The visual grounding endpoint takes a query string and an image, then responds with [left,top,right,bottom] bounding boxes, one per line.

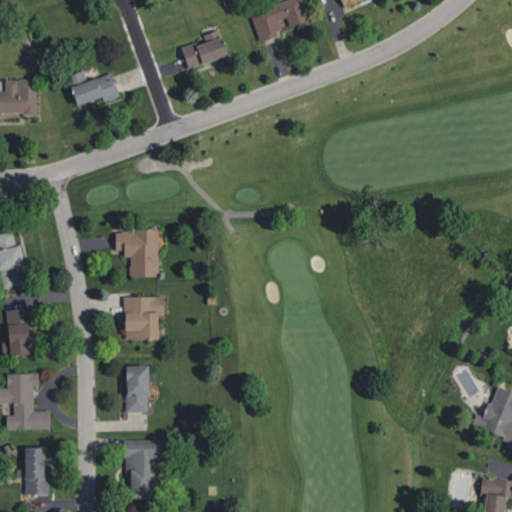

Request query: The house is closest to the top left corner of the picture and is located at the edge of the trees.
[0,80,38,115]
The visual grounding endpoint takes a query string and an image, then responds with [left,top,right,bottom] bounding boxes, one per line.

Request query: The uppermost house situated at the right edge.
[472,383,512,440]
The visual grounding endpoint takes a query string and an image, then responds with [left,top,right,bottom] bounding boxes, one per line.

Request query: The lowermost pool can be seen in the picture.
[448,468,477,505]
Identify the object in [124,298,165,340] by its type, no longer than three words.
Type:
house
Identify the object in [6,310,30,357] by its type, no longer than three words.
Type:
house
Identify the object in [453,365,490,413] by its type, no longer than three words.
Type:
swimming pool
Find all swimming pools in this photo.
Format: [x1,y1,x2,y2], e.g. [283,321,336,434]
[448,468,477,505]
[453,365,490,413]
